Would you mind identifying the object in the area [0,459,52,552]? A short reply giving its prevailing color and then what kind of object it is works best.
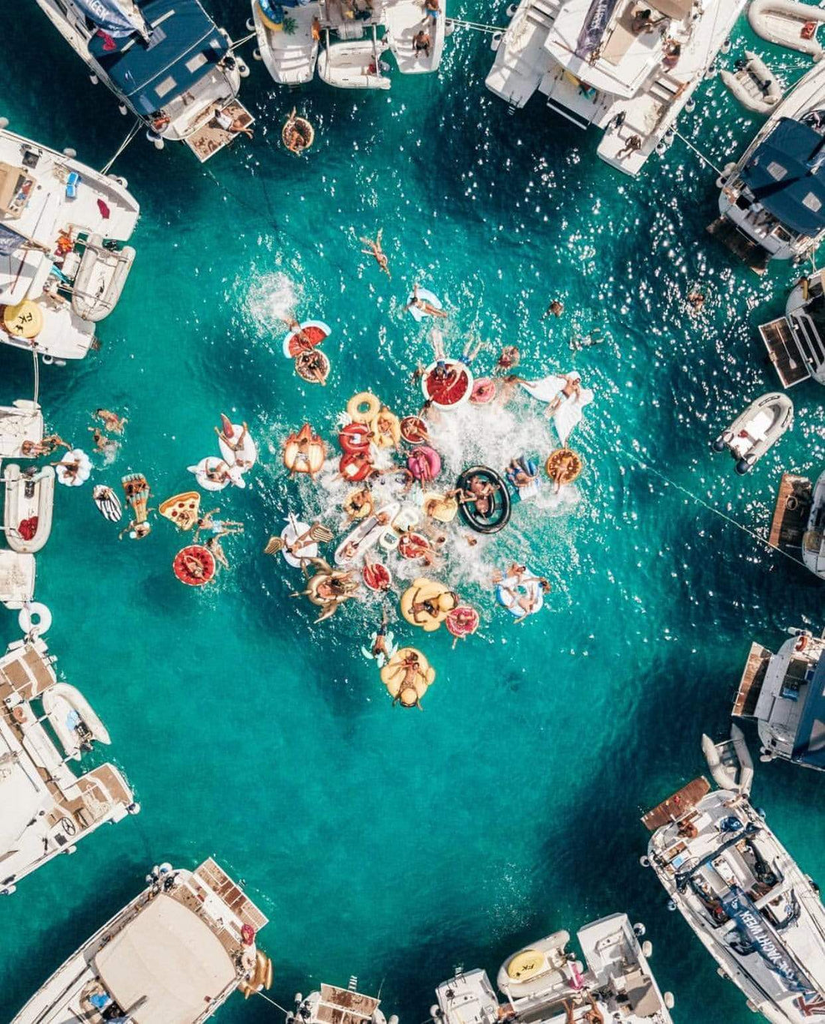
white boat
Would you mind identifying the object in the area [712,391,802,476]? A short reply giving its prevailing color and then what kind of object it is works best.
white boat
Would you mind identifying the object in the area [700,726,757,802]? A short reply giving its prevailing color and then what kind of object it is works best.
gray boat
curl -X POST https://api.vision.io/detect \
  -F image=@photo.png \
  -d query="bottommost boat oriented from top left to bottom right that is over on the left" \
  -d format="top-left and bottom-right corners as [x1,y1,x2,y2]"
[34,685,110,769]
